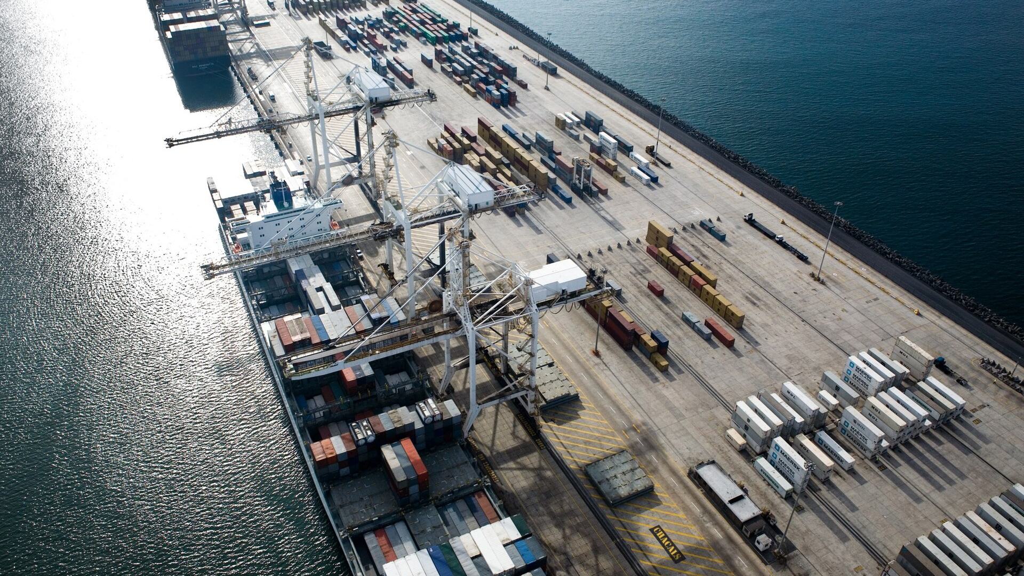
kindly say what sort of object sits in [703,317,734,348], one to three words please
shipping container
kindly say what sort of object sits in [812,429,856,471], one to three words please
shipping container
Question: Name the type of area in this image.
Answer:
port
